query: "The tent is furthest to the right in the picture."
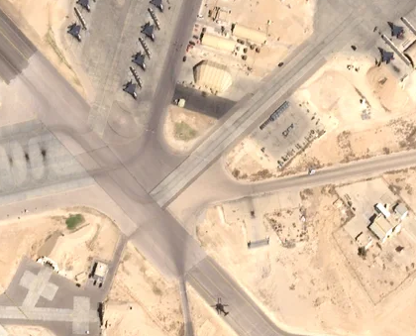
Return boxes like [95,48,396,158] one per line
[232,23,265,43]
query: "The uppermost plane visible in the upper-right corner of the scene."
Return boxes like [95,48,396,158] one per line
[390,21,405,38]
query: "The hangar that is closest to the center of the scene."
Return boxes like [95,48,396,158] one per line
[192,60,232,92]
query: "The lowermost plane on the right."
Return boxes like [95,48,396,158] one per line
[379,48,394,64]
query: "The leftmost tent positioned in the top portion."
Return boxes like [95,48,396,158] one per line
[200,33,235,52]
